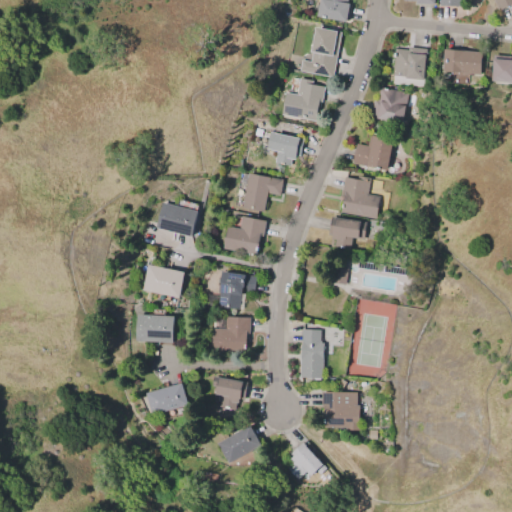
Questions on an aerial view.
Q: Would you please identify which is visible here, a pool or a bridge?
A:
pool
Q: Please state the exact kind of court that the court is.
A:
tennis court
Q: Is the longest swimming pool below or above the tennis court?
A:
above it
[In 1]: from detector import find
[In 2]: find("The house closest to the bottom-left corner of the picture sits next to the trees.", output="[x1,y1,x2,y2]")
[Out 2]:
[147,384,186,411]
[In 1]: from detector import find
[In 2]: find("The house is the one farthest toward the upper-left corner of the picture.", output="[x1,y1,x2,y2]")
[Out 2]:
[158,202,198,236]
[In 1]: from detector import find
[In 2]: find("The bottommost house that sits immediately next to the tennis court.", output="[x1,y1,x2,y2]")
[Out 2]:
[324,392,361,432]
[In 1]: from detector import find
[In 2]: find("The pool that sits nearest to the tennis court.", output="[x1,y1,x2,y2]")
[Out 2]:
[352,263,411,297]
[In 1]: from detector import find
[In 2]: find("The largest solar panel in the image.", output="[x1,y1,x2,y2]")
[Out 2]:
[160,220,191,234]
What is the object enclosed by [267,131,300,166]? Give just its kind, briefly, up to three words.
house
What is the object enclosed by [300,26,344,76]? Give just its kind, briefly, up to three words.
house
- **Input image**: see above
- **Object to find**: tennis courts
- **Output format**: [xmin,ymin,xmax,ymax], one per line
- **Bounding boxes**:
[350,298,398,378]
